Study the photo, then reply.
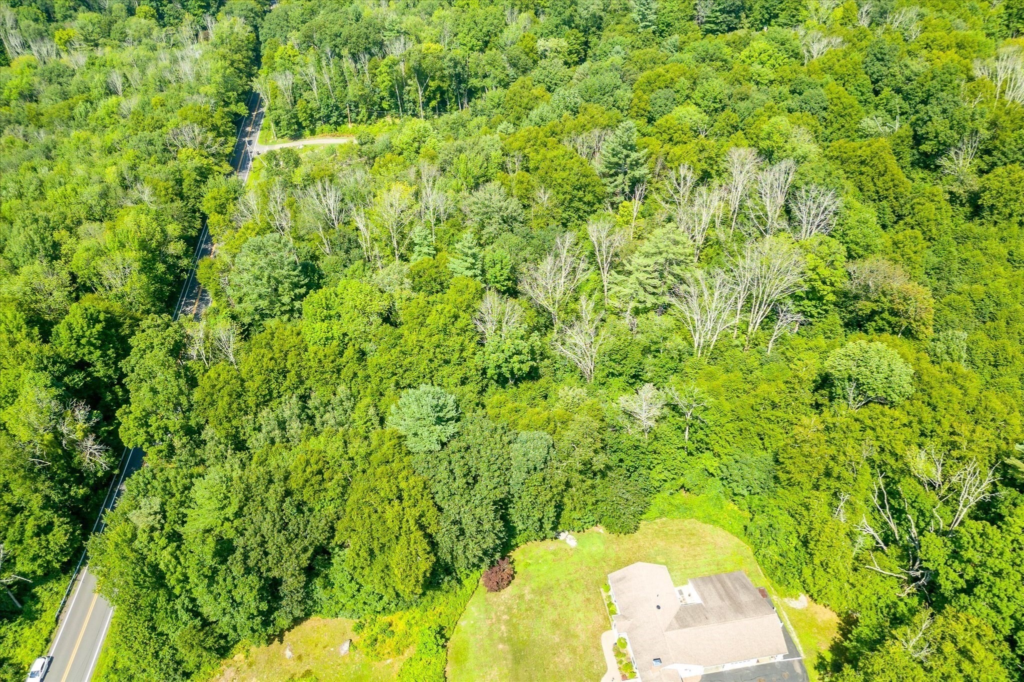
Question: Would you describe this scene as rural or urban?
rural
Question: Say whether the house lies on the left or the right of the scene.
right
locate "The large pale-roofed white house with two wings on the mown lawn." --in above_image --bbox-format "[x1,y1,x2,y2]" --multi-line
[608,563,787,682]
